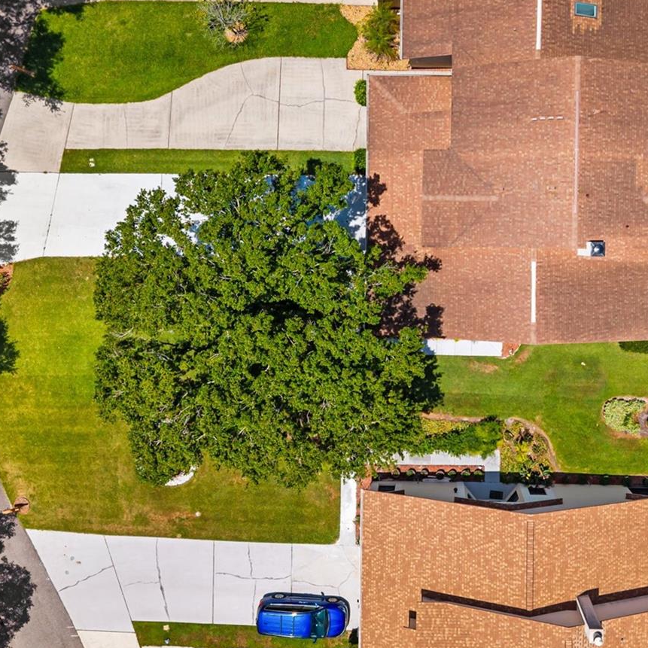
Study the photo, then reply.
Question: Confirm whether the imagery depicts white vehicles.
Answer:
No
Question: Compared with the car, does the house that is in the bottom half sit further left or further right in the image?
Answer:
right of it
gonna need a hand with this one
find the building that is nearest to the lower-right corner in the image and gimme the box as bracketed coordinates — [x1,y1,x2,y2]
[360,481,648,648]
